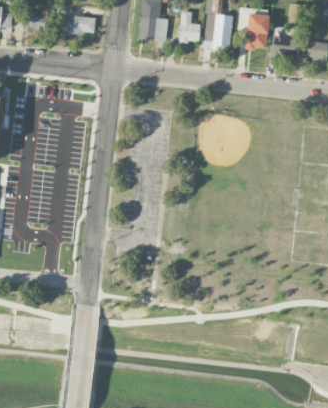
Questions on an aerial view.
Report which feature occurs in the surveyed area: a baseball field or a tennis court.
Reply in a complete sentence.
There is a baseball field in the scene.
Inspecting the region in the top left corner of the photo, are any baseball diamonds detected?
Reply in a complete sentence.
No, the scene shows no baseball diamond in the top left corner of the photo.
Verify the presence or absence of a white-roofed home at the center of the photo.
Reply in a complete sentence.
No, no white-roofed home can be made out at the center of the photo.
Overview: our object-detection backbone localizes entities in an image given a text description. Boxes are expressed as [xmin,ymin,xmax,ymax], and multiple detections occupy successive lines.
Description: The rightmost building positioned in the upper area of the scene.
[308,40,328,62]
